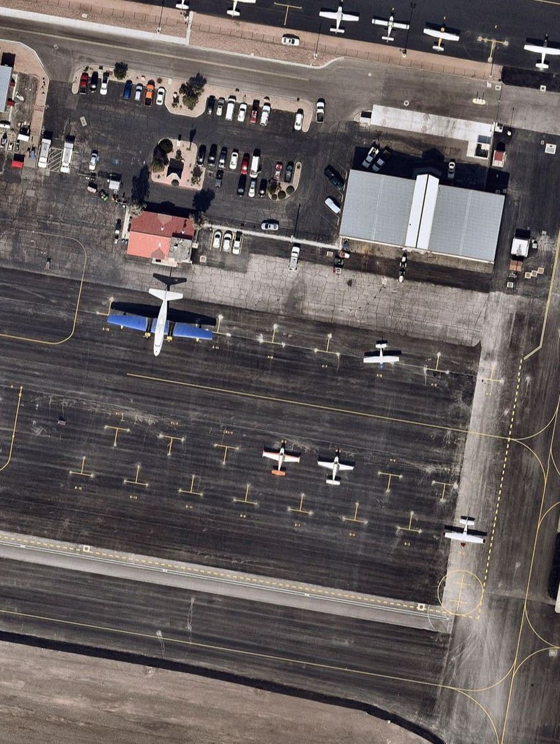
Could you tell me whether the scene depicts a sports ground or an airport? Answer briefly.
airport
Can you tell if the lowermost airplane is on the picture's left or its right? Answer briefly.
right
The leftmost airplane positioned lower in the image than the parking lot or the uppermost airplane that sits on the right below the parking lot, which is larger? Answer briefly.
the leftmost airplane positioned lower in the image than the parking lot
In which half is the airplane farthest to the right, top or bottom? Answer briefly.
top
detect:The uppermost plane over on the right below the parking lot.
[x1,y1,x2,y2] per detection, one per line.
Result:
[363,343,400,369]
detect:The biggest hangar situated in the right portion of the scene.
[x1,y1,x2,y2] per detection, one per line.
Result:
[339,168,506,265]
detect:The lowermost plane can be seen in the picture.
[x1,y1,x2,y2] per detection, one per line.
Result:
[446,522,487,547]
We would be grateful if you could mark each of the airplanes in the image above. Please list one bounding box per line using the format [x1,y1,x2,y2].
[227,0,256,15]
[372,12,410,43]
[446,522,487,547]
[525,39,560,68]
[108,283,213,360]
[262,446,300,474]
[318,456,355,484]
[363,343,400,369]
[424,25,460,50]
[319,5,359,37]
